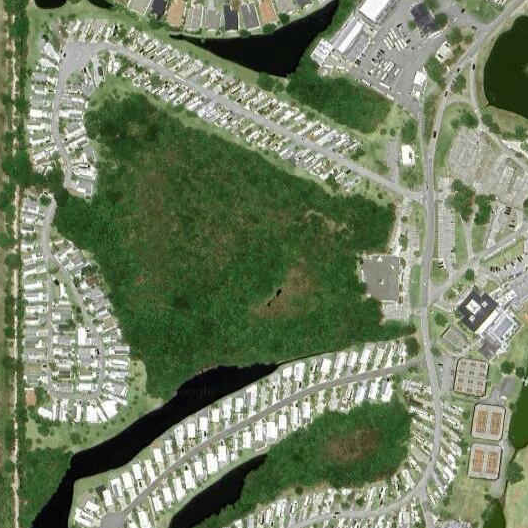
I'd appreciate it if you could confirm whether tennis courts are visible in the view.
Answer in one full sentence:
Yes, the picture does show a tennis court.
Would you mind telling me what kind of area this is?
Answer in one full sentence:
This image shows a residential area.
